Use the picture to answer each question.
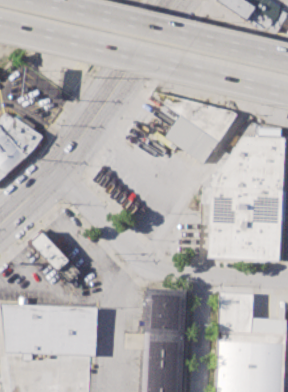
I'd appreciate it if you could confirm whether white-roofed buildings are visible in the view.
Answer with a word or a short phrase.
Yes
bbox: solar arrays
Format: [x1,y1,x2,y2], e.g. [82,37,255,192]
[214,198,234,222]
[254,198,278,222]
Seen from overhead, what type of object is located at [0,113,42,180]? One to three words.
building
